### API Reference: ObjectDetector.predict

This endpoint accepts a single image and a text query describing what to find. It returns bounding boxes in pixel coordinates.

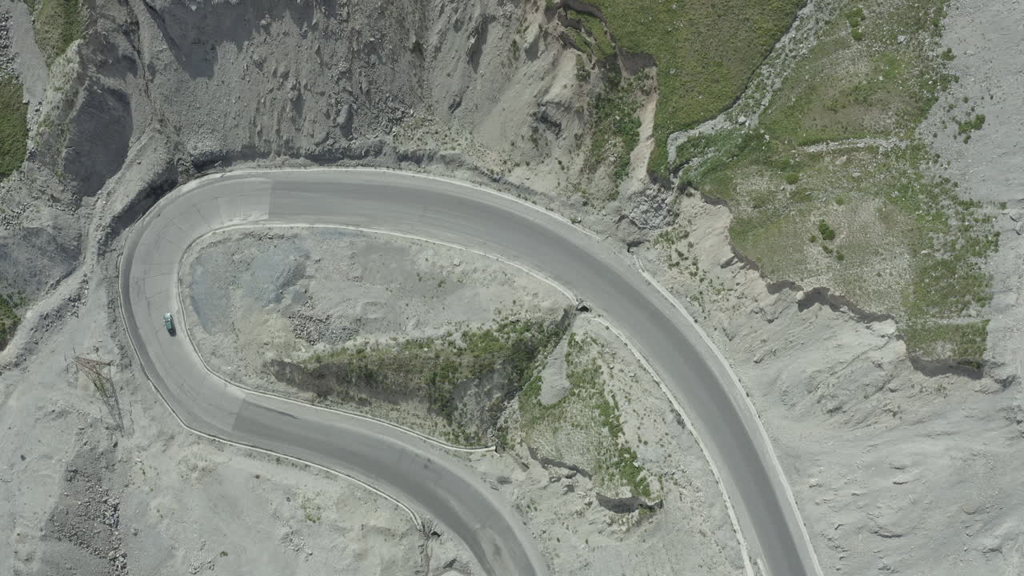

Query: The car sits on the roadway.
[163,313,175,333]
